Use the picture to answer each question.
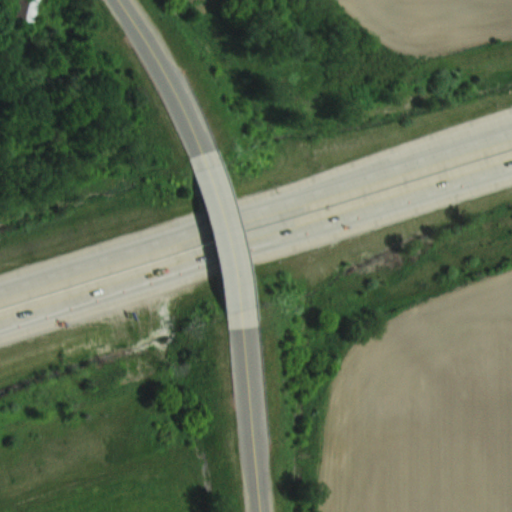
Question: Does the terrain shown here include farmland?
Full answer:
Yes, some farmland is visible.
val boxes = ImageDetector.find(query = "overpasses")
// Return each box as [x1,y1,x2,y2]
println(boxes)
[190,149,260,330]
